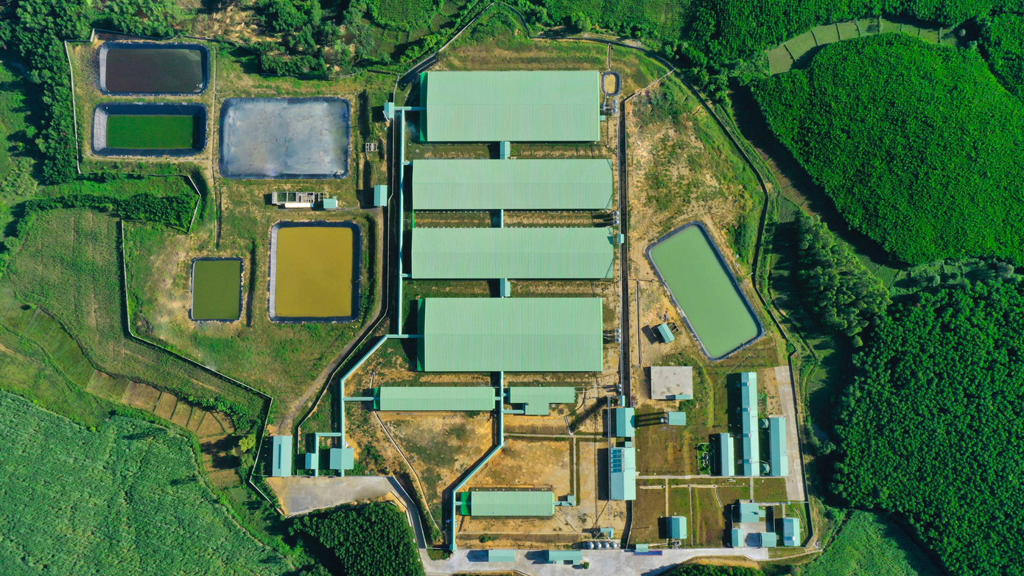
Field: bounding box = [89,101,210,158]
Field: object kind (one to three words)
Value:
pond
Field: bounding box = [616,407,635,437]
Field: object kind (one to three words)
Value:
building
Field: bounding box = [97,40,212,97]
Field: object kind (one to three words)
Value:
pond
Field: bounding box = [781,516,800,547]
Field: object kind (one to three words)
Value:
house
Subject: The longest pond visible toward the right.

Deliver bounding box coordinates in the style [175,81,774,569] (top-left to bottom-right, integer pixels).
[649,223,763,359]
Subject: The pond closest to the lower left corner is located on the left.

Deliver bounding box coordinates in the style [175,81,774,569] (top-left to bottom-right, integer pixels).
[188,255,245,324]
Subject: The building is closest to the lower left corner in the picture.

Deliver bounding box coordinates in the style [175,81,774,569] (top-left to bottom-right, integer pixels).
[273,435,294,477]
